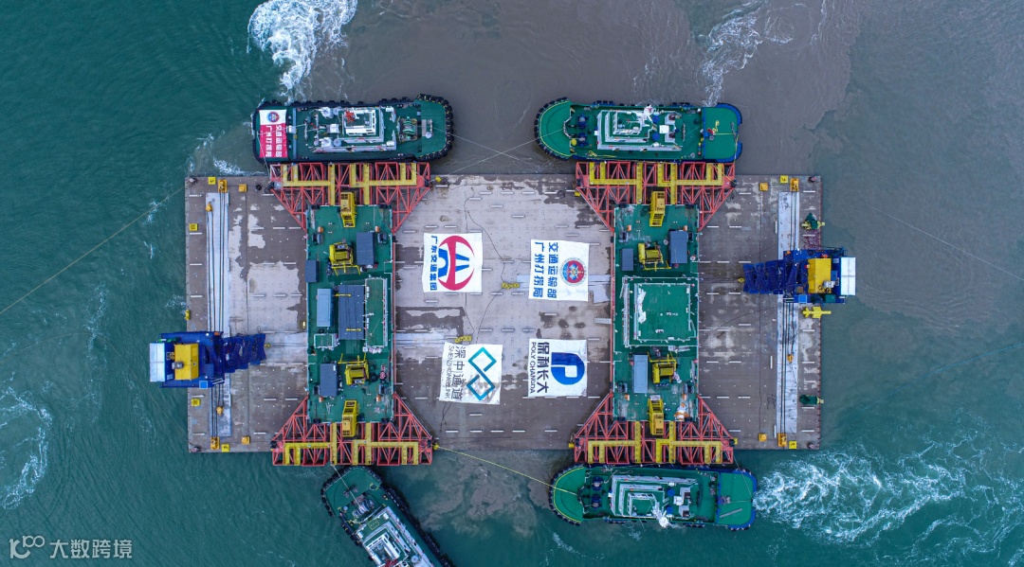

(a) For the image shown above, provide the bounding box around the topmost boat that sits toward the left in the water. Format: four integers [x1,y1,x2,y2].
[250,91,454,166]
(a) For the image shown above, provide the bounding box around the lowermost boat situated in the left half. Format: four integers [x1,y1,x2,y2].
[318,462,458,567]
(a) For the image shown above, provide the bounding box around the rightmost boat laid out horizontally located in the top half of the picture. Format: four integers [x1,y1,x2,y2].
[535,93,744,164]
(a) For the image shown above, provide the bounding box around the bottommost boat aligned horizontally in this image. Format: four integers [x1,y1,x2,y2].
[549,460,758,529]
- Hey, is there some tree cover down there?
No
